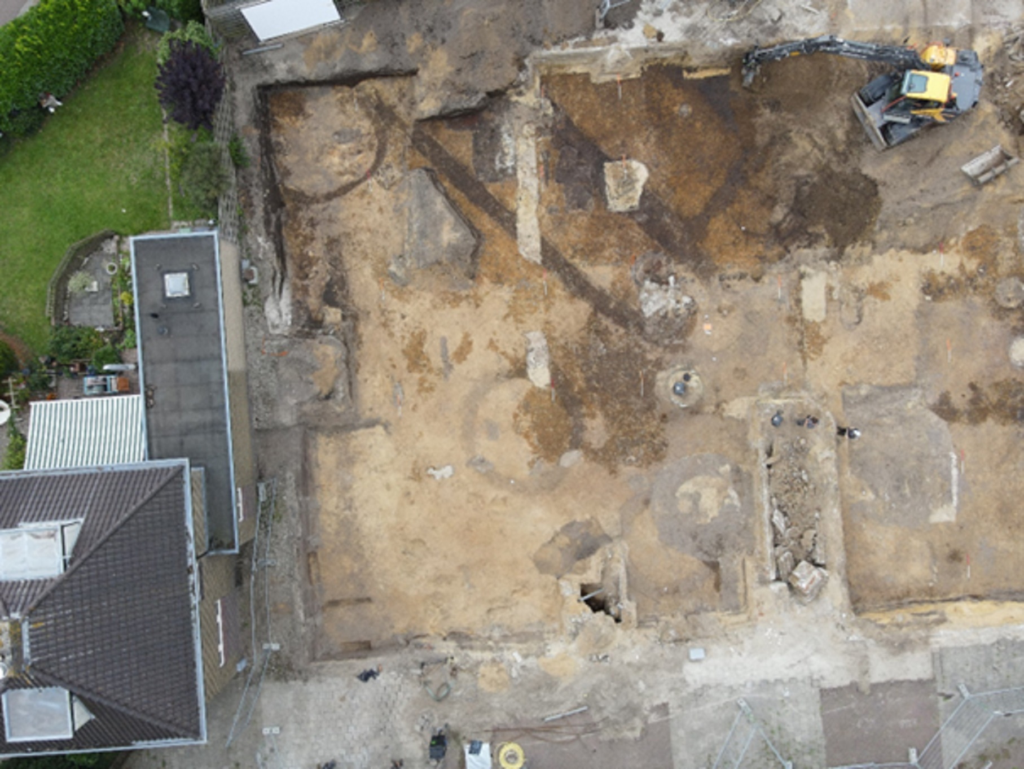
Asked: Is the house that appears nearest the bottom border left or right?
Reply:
left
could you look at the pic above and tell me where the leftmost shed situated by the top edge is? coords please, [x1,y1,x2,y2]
[205,0,262,60]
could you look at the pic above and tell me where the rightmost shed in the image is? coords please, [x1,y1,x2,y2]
[245,0,342,45]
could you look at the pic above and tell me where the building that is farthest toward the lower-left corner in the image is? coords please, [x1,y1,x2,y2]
[0,454,239,758]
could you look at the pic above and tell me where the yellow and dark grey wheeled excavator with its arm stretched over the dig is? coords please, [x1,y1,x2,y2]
[744,32,979,159]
